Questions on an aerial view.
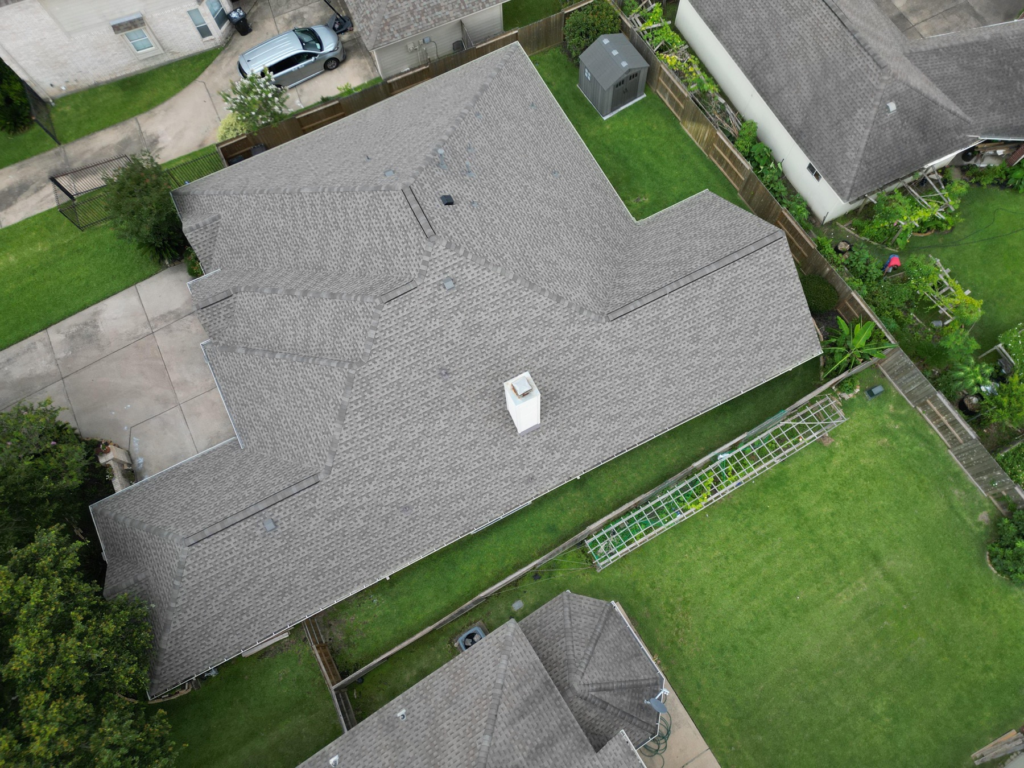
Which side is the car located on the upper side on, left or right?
left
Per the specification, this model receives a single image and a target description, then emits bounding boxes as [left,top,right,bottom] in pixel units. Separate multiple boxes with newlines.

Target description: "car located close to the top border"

[236,22,346,88]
